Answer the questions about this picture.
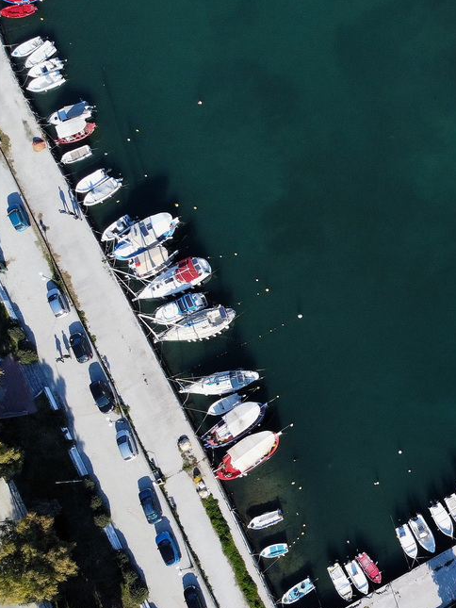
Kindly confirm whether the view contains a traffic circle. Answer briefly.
No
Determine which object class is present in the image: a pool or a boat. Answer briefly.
boat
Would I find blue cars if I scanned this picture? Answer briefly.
Yes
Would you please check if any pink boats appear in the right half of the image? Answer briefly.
Yes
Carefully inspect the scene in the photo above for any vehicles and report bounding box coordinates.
[115,430,139,462]
[88,380,114,413]
[4,200,29,231]
[156,534,179,566]
[182,587,206,608]
[137,491,161,525]
[42,284,68,318]
[67,332,92,363]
